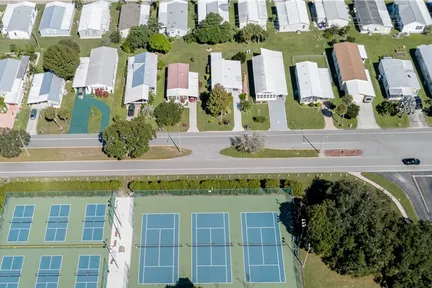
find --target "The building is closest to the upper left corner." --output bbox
[1,2,36,37]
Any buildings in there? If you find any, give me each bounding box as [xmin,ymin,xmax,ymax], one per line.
[78,2,111,36]
[333,43,373,101]
[416,46,432,89]
[124,54,157,107]
[158,1,188,36]
[1,2,36,37]
[28,74,66,108]
[39,2,75,35]
[198,0,229,28]
[166,62,198,101]
[0,56,31,109]
[392,0,432,30]
[353,0,392,31]
[73,46,116,92]
[118,4,149,35]
[314,0,349,26]
[238,0,267,28]
[295,61,334,102]
[251,49,287,99]
[379,60,420,102]
[211,52,241,95]
[275,0,309,30]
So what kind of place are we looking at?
residential area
